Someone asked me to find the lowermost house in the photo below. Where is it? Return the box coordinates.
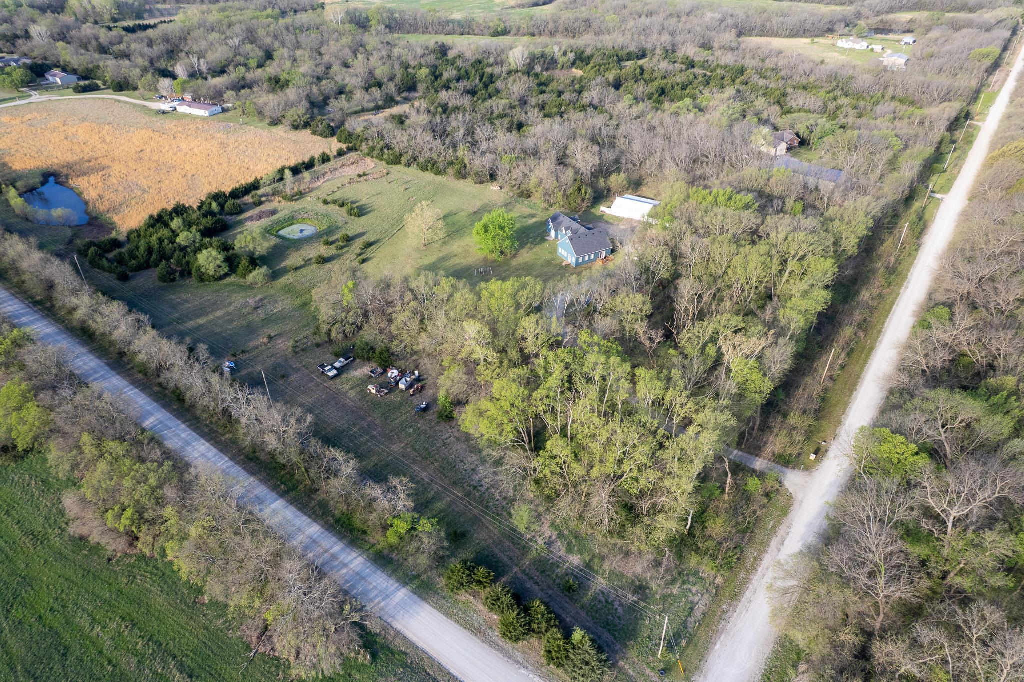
[542,207,615,267]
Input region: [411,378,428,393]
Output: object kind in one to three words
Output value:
work vehicle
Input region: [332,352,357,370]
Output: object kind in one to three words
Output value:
vehicle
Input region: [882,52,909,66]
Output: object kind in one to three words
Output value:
barn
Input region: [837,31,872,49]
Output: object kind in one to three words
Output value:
house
